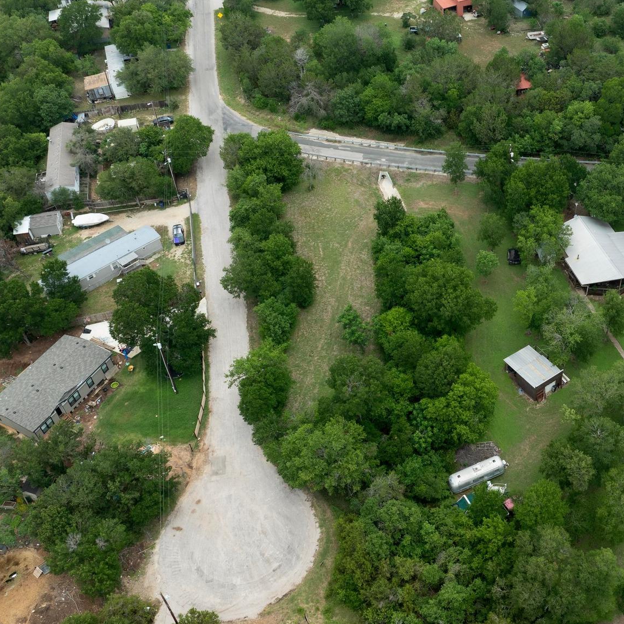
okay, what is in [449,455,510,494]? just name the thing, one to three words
trailer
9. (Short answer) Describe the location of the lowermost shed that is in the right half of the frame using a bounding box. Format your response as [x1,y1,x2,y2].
[504,346,560,397]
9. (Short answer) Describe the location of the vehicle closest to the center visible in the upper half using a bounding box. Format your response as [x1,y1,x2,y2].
[172,227,185,245]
